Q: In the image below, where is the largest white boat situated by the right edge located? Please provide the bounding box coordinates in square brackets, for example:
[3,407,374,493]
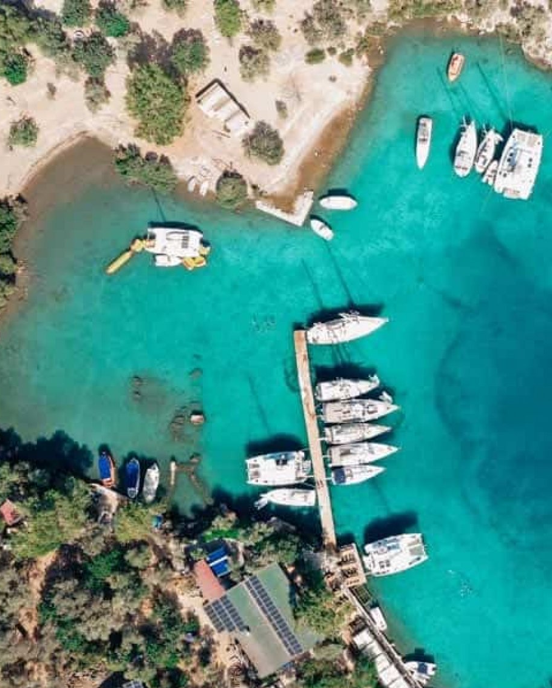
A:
[496,129,542,204]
